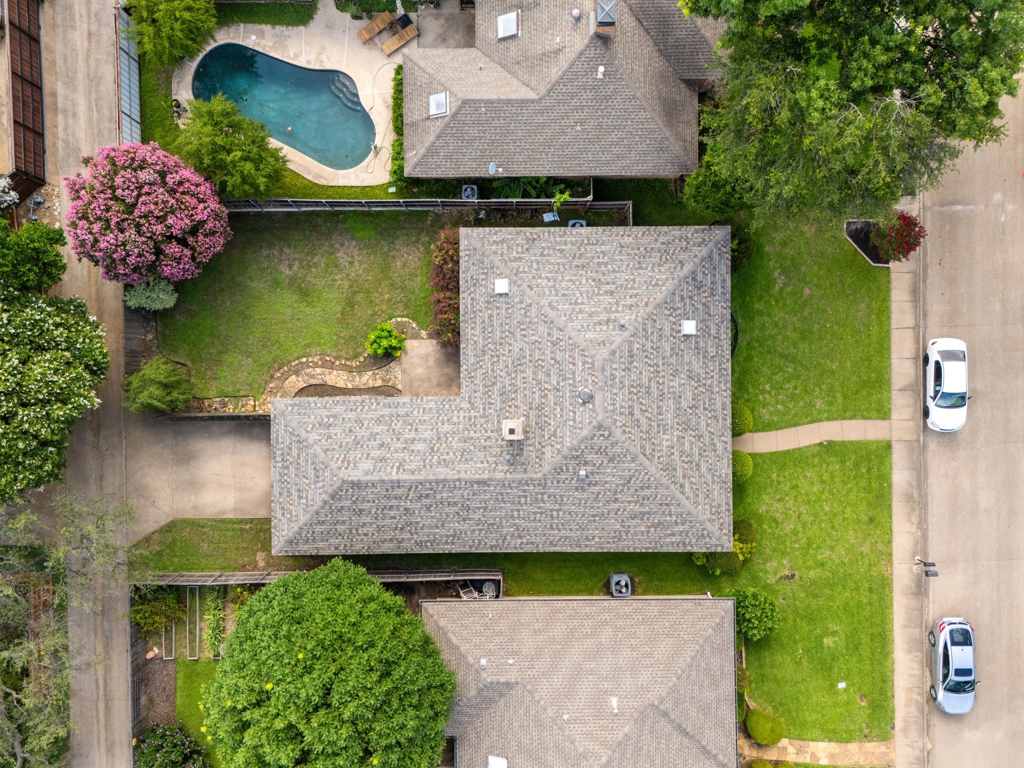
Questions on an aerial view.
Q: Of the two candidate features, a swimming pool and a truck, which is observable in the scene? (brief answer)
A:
swimming pool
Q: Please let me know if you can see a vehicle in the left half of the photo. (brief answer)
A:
No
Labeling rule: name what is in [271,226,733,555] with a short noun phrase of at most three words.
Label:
house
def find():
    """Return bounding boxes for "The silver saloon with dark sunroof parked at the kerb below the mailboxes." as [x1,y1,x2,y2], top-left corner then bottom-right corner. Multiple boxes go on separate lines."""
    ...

[926,614,981,712]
